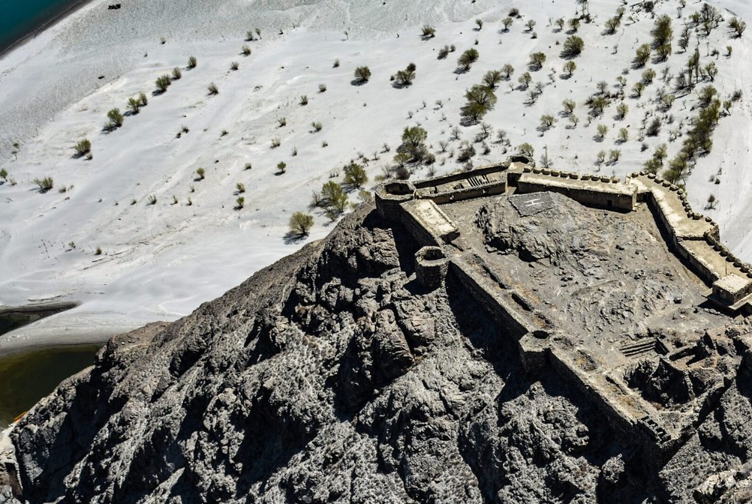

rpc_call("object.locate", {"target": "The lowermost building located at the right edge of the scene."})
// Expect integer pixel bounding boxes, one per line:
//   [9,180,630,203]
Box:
[702,272,752,312]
